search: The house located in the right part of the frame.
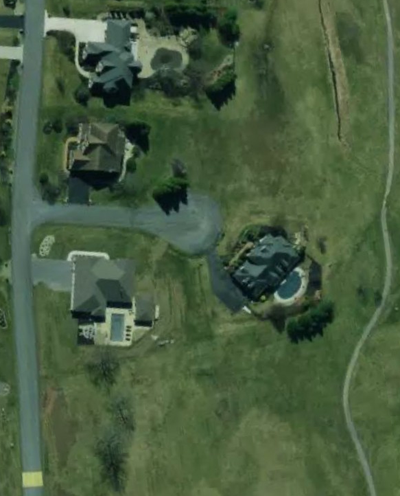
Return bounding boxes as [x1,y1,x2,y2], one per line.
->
[227,223,300,302]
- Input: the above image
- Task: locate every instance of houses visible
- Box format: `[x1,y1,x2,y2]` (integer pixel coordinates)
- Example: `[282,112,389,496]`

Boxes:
[71,253,135,311]
[69,121,125,173]
[227,223,300,302]
[85,18,145,96]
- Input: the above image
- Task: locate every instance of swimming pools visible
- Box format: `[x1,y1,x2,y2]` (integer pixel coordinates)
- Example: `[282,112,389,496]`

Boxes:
[109,315,125,341]
[276,269,302,301]
[150,46,183,70]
